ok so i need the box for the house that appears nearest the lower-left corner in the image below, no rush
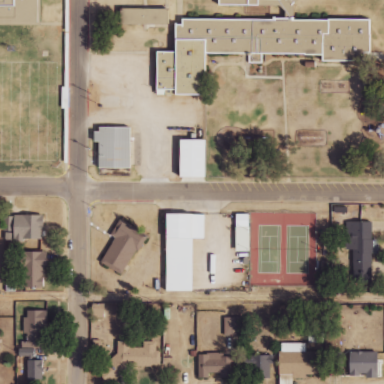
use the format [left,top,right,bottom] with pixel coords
[27,360,42,380]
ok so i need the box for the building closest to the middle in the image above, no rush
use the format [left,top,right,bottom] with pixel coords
[180,139,206,177]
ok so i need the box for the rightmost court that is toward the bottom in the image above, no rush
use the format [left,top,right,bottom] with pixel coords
[284,212,316,285]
